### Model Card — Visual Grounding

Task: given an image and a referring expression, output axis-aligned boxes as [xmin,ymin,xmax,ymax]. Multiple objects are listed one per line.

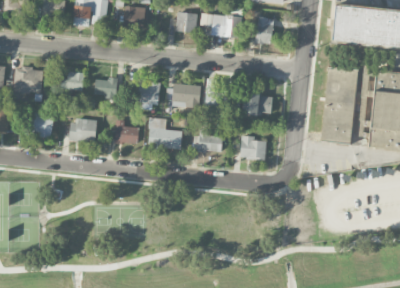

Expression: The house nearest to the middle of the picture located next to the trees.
[192,135,223,152]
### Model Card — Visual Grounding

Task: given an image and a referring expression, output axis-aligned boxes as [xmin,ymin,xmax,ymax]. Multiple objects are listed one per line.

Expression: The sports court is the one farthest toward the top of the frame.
[9,182,39,216]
